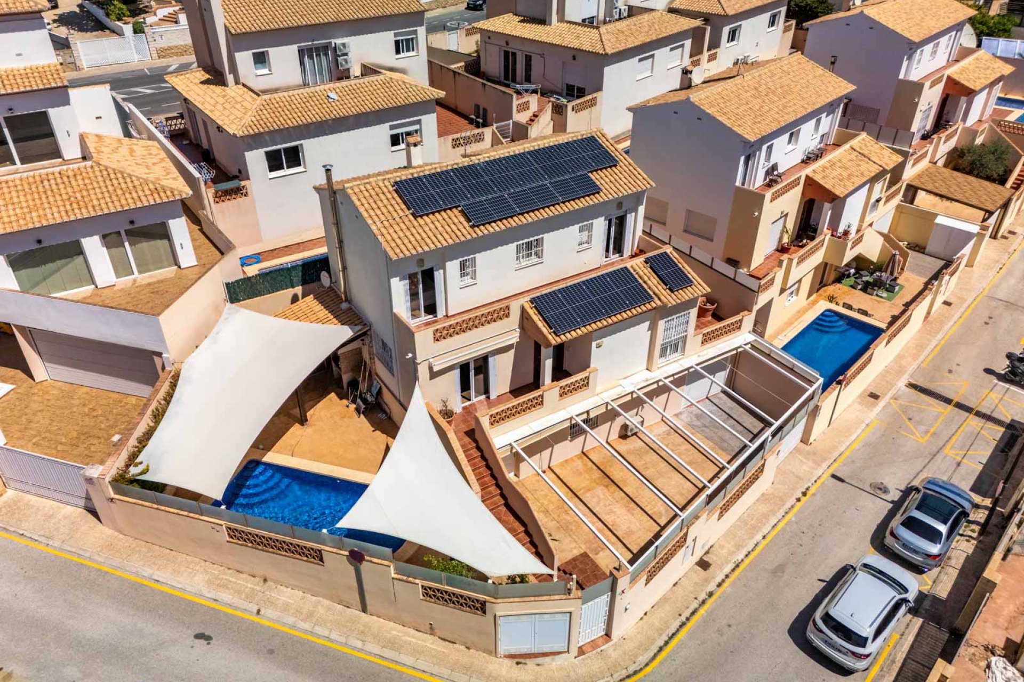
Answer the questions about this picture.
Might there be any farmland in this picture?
No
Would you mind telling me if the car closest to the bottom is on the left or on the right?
right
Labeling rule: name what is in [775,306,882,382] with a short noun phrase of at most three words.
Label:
swimming pool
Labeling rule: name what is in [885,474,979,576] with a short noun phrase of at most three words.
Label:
car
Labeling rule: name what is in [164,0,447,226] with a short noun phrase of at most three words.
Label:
house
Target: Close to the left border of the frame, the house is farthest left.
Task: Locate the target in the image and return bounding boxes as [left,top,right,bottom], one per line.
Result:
[0,0,246,392]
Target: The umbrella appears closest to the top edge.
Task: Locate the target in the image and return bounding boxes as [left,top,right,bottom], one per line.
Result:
[886,229,913,270]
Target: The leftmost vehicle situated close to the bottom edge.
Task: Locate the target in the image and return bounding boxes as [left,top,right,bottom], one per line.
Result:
[809,551,924,680]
